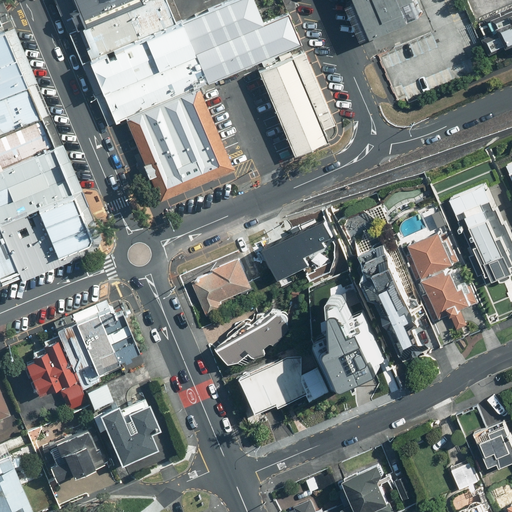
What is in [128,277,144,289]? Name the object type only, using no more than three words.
vehicle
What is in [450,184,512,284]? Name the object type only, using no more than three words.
house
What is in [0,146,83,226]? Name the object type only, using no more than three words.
building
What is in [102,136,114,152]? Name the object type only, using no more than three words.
vehicle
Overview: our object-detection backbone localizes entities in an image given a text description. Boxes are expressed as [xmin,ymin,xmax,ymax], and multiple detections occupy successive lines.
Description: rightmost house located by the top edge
[478,11,512,56]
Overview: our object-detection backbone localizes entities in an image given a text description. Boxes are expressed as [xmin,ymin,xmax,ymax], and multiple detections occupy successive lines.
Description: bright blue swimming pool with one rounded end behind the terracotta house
[400,214,426,238]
